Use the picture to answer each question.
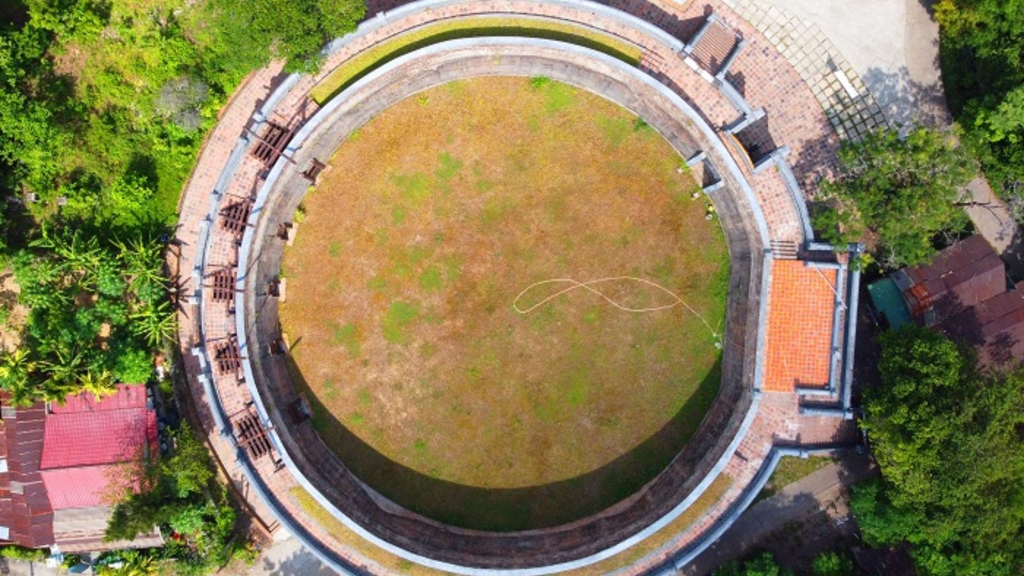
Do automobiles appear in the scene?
No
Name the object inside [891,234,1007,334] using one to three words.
shed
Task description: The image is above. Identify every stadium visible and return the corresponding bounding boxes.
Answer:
[187,0,812,576]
